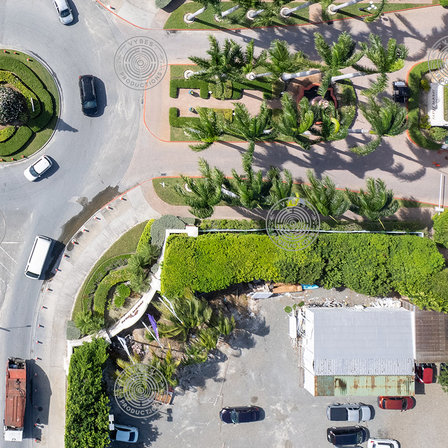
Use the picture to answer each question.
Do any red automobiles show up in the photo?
Yes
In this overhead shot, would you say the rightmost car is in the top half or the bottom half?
bottom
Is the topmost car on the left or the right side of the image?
left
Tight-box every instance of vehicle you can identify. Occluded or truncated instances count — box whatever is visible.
[4,360,27,446]
[325,402,372,424]
[325,425,368,447]
[391,81,409,102]
[23,152,53,184]
[367,436,398,448]
[220,405,261,426]
[78,74,99,116]
[52,0,73,26]
[376,396,413,413]
[23,234,52,280]
[415,362,436,388]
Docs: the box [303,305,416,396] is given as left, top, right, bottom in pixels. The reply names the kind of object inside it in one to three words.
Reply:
shed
